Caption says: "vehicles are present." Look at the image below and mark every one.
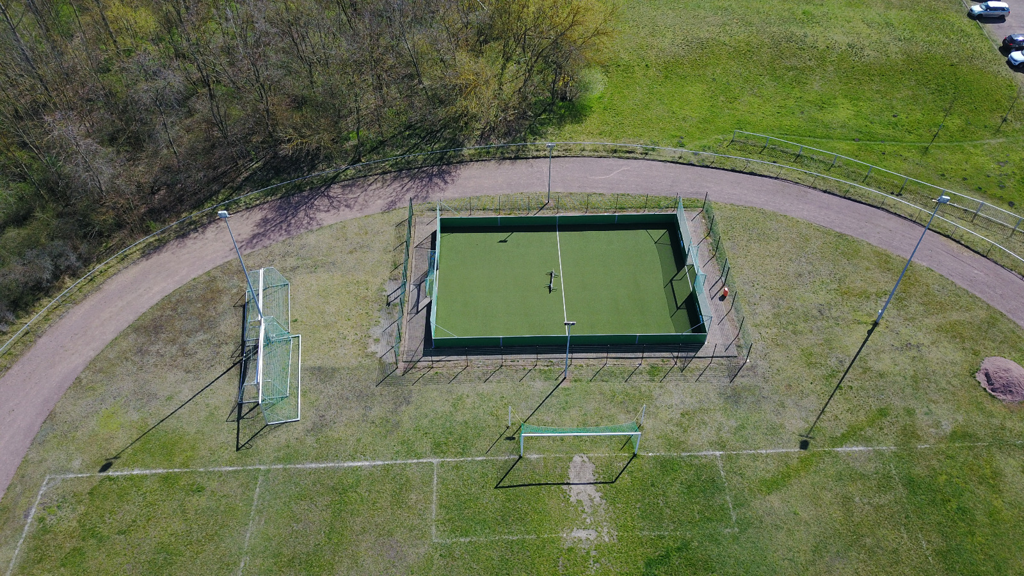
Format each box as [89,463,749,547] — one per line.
[966,2,1013,22]
[1001,28,1024,47]
[1008,46,1024,65]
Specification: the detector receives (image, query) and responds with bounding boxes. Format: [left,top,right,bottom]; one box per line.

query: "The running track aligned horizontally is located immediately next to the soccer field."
[0,156,1024,492]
